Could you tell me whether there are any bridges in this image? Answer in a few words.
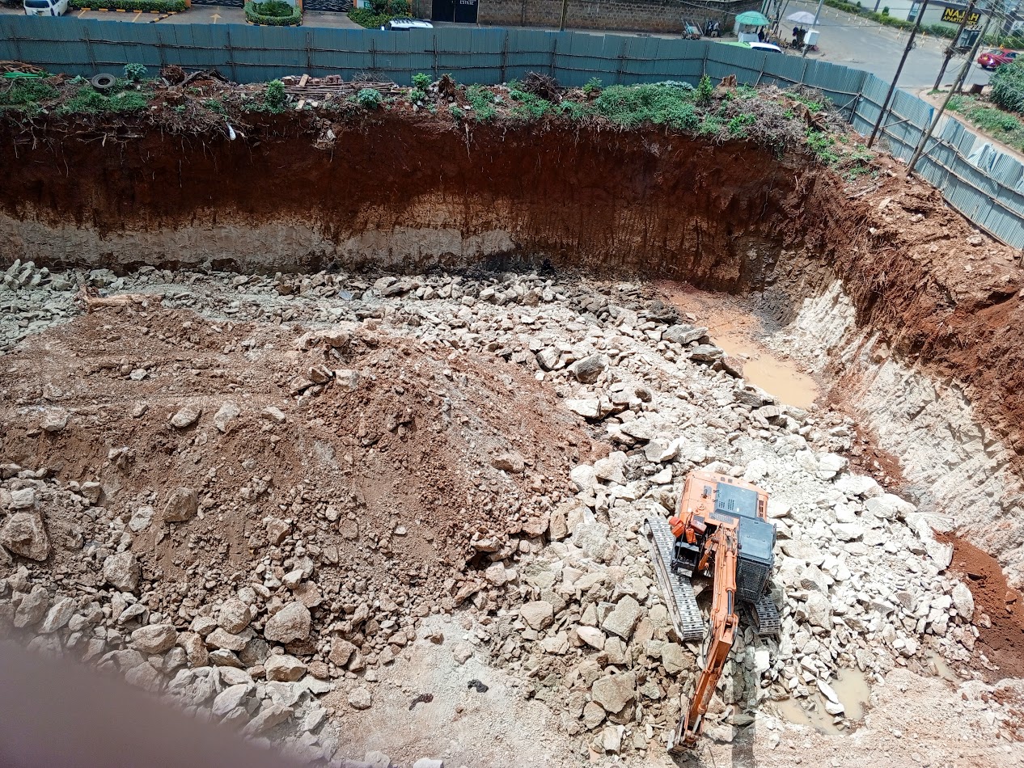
No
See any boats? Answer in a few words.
No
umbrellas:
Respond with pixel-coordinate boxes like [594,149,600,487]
[730,10,772,39]
[782,12,821,46]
